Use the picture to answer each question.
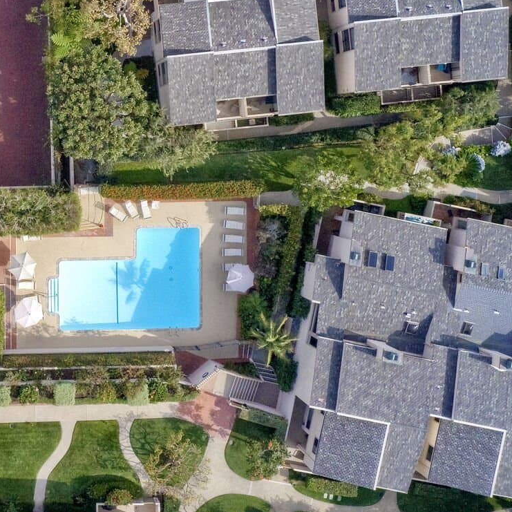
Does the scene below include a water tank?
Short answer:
No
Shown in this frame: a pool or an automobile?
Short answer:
pool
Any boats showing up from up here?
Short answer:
No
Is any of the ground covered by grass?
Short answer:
Yes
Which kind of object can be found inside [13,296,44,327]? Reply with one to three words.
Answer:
umbrella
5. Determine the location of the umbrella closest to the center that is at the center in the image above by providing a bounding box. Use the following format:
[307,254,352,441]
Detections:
[224,263,255,293]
